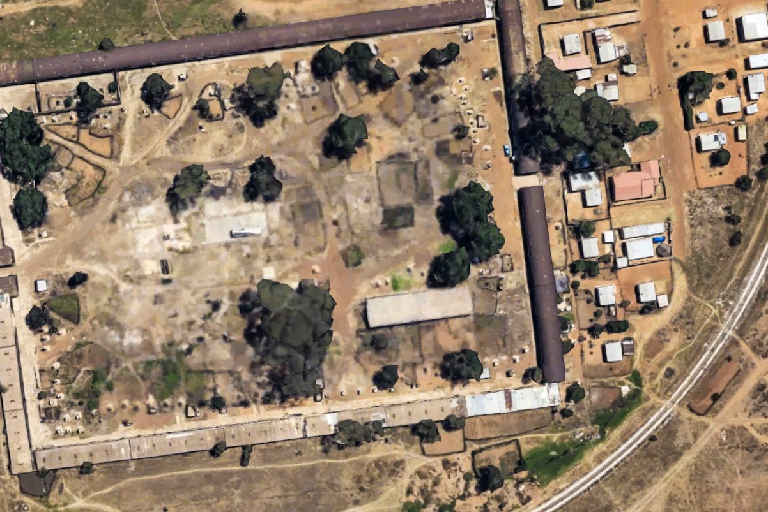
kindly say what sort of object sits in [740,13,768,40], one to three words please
house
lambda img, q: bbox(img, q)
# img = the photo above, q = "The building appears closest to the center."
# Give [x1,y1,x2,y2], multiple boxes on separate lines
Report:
[367,288,472,326]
